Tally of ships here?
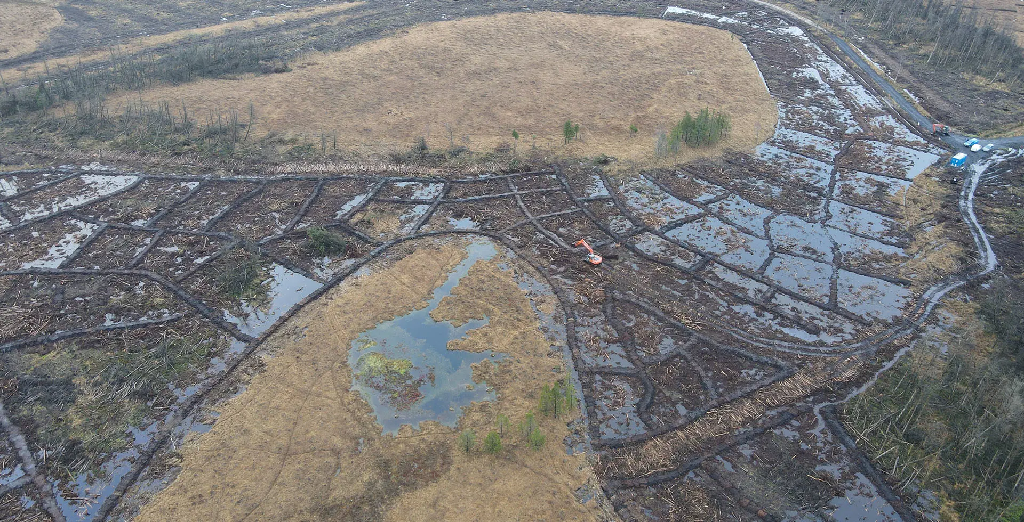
0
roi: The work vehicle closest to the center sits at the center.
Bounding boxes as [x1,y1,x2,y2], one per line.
[574,236,605,267]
